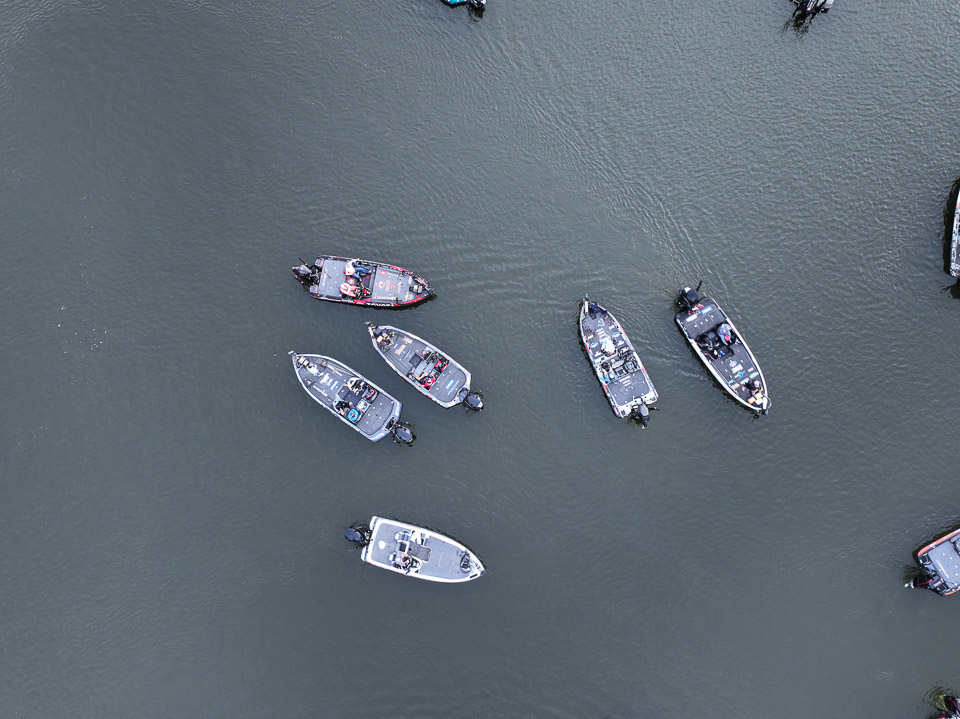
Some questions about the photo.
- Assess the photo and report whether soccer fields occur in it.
No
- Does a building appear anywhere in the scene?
No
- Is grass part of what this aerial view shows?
No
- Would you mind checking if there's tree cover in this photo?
No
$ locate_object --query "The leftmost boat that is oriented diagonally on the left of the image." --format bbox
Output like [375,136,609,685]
[286,351,413,442]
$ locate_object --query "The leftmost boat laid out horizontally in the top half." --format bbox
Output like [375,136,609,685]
[292,255,436,307]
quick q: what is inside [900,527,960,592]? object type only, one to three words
boat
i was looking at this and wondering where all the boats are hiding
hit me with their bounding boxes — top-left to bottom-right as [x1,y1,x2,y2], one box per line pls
[900,527,960,592]
[946,182,960,279]
[937,690,960,719]
[286,351,413,442]
[797,0,836,19]
[674,279,772,417]
[449,0,486,19]
[292,255,436,307]
[363,321,483,409]
[344,514,487,581]
[579,293,661,422]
